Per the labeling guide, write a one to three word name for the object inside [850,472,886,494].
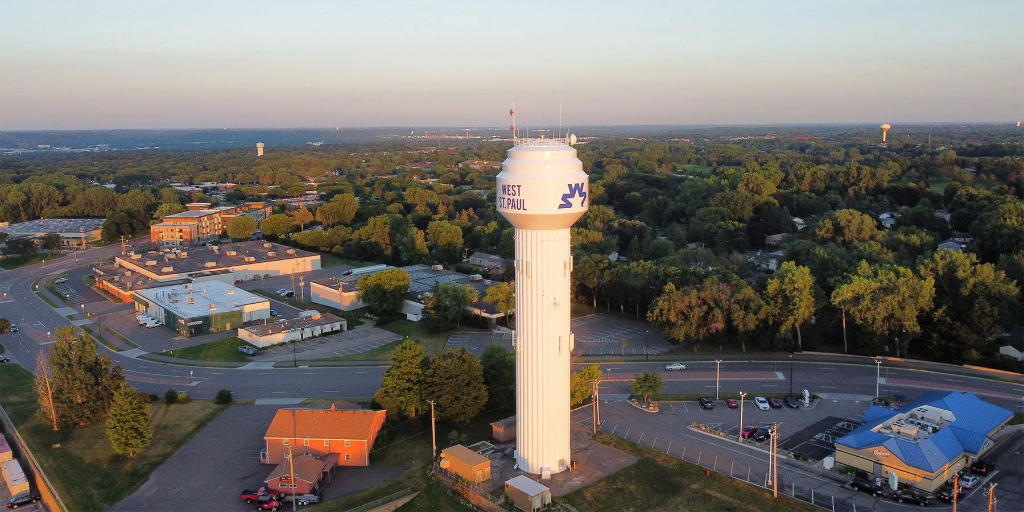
car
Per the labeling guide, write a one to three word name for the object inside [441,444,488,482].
shed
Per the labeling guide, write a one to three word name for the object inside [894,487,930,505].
car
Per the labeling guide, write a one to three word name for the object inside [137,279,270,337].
building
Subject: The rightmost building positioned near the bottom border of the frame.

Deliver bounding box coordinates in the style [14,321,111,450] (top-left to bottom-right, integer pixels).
[833,388,1015,493]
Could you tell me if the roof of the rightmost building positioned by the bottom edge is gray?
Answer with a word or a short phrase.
No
